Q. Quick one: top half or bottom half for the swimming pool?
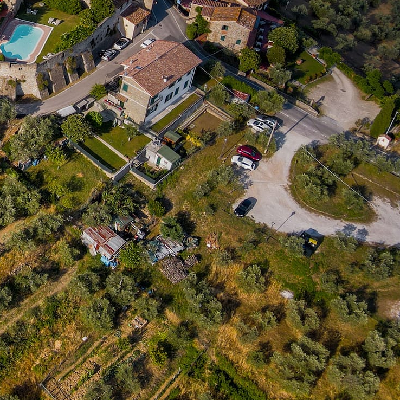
top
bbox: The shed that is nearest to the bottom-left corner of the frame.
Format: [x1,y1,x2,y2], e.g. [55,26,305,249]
[84,224,125,271]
